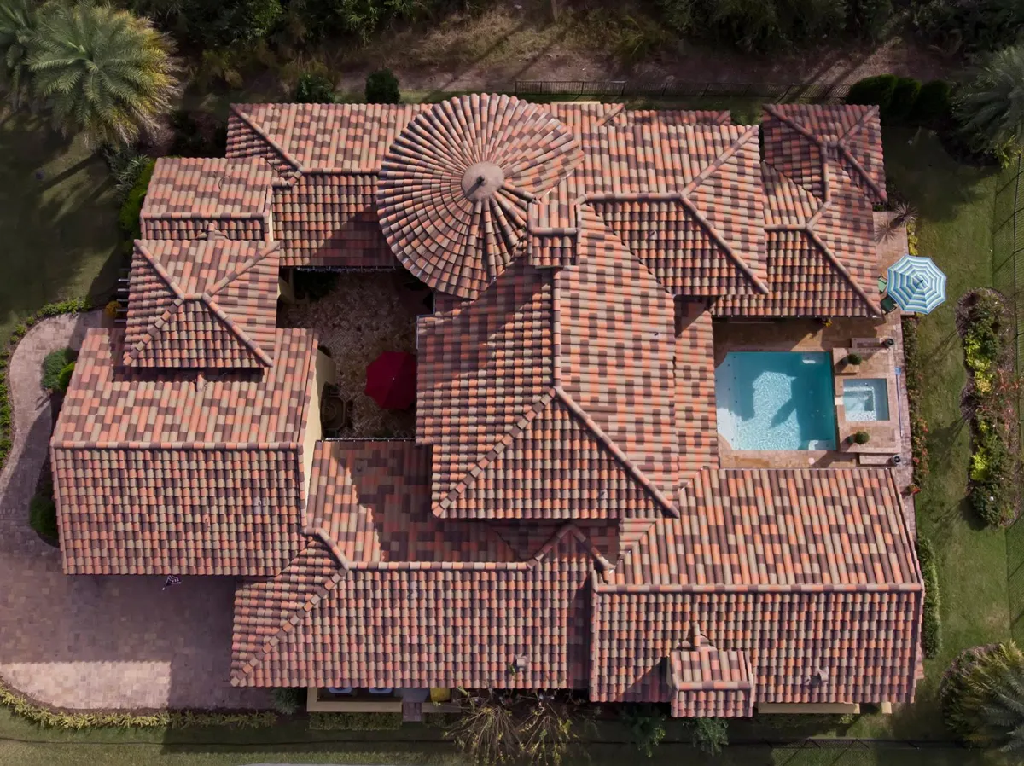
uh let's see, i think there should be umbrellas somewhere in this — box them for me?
[881,258,942,313]
[366,354,412,409]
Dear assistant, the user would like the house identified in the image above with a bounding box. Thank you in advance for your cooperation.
[48,94,926,718]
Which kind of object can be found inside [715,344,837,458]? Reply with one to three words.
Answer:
swimming pool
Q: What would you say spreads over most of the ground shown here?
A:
buildings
